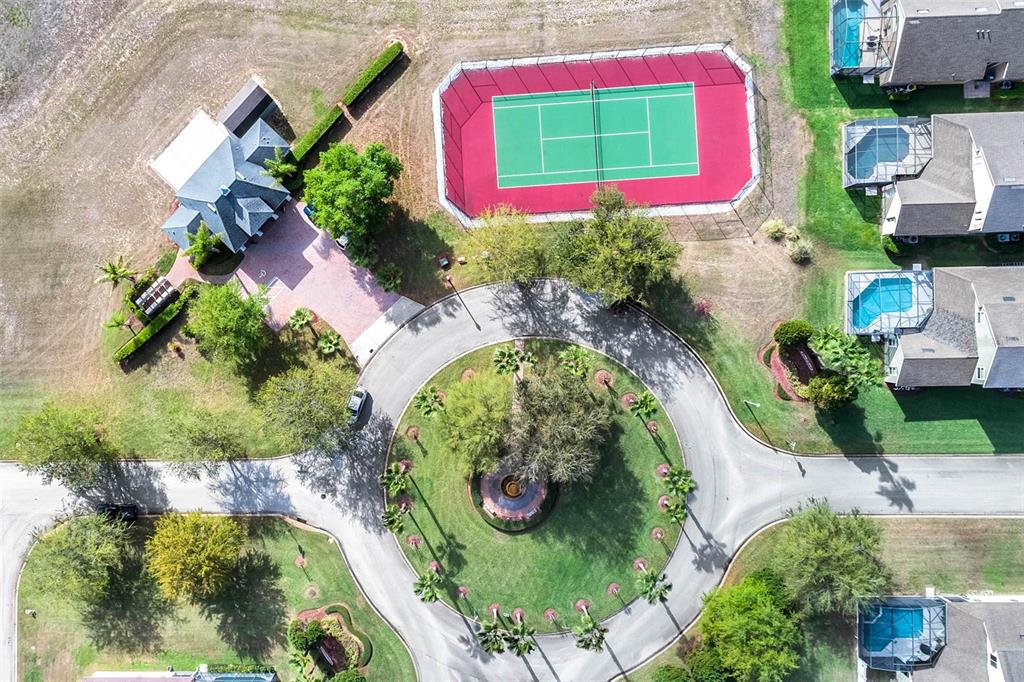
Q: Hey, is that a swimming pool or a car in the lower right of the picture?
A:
swimming pool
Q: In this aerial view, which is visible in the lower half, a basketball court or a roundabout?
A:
roundabout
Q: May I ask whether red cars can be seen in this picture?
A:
No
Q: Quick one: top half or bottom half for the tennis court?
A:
top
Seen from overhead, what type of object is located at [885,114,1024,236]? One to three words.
house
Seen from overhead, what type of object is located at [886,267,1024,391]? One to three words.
house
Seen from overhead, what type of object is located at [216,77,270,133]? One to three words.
shed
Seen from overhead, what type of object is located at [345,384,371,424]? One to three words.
car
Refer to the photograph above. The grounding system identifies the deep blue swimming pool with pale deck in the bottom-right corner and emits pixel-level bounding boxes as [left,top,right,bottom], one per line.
[857,595,936,660]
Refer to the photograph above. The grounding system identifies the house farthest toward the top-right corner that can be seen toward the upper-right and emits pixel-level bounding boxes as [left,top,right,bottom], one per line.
[884,0,1024,86]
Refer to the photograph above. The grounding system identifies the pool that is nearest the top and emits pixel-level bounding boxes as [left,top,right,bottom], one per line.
[830,0,884,76]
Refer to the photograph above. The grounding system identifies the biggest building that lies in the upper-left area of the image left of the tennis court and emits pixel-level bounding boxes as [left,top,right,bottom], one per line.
[160,118,299,254]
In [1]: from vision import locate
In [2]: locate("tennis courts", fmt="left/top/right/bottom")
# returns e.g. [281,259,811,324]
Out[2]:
[432,42,760,228]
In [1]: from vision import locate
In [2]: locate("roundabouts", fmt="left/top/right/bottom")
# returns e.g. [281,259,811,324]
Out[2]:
[344,282,731,681]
